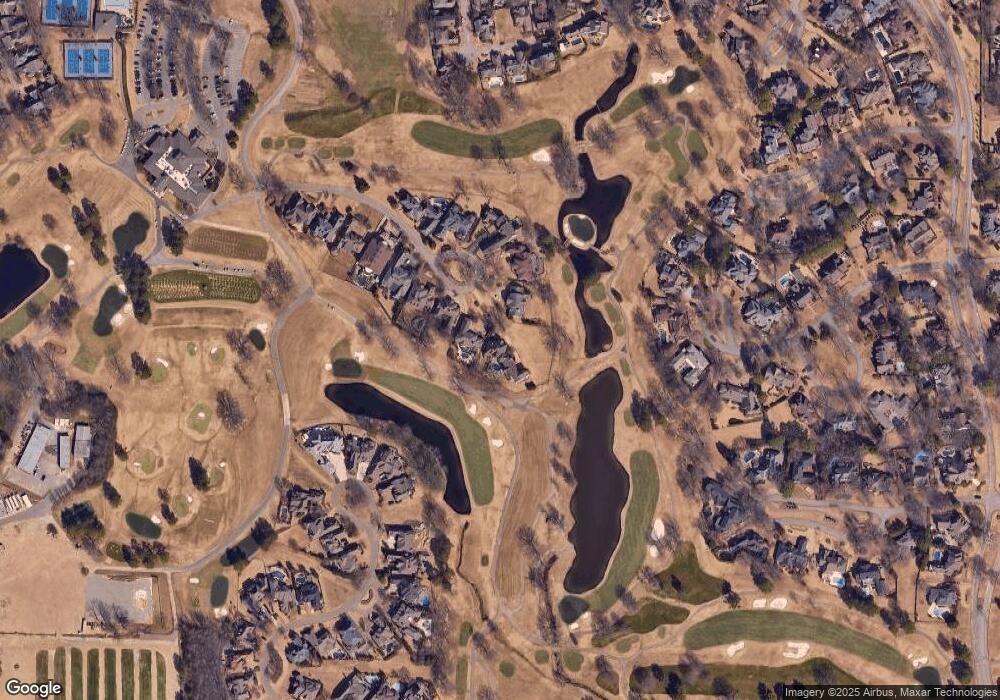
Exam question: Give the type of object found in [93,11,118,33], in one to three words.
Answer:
building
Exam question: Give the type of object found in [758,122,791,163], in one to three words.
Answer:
house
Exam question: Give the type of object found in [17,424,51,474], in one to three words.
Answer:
shed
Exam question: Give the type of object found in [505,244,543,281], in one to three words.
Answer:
house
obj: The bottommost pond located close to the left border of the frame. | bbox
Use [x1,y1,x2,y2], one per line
[0,244,50,319]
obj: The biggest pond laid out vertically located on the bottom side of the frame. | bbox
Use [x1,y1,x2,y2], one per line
[564,367,630,594]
